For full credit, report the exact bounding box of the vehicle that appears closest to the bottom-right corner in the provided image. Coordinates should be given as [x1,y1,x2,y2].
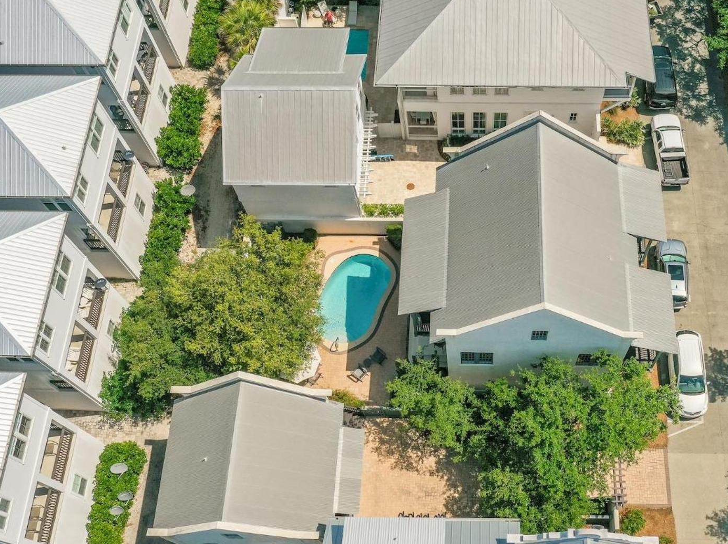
[669,327,717,415]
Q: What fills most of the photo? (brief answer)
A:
buildings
